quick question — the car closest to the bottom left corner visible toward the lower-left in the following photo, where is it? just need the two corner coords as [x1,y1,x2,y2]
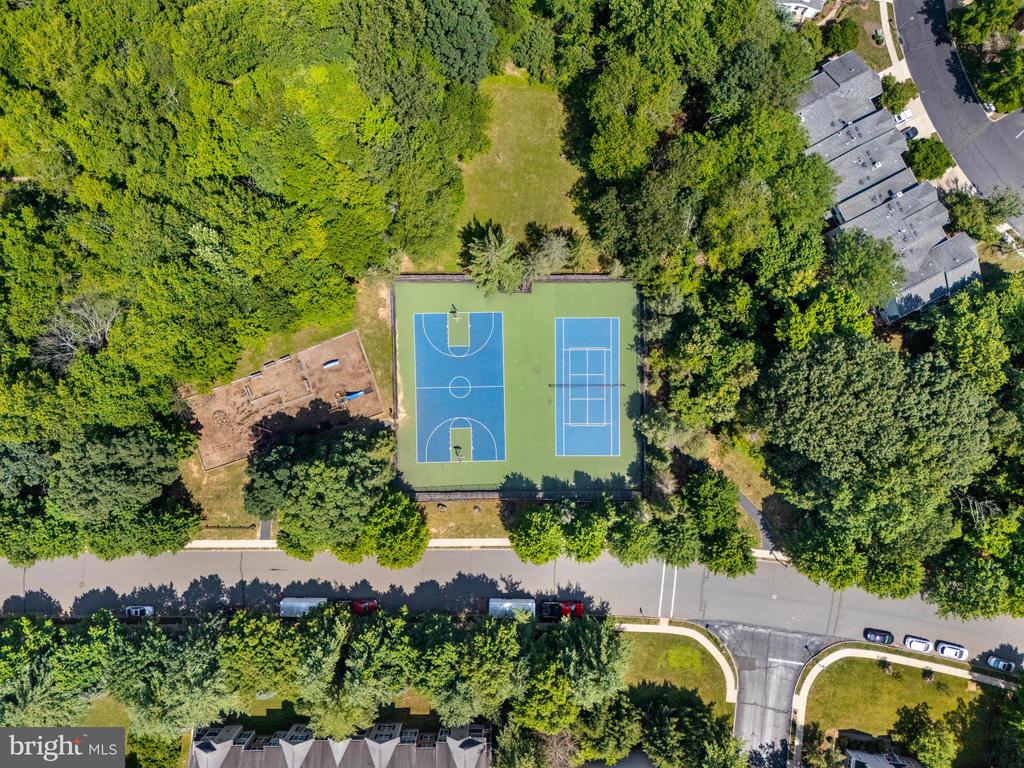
[123,605,152,619]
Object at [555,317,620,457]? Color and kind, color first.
blue tennis court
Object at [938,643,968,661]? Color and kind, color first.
white car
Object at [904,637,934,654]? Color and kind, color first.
white car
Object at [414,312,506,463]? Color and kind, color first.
blue basketball court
